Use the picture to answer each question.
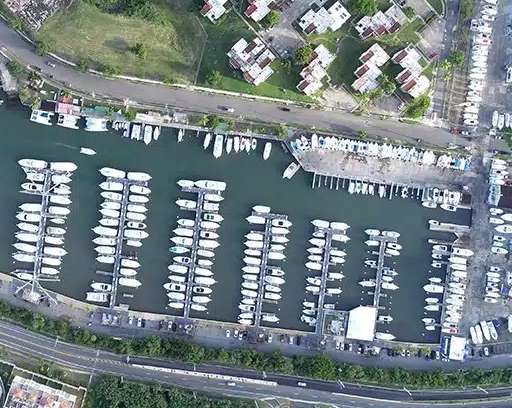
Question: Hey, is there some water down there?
Yes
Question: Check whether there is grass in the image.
Yes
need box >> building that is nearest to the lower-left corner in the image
[6,375,78,408]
